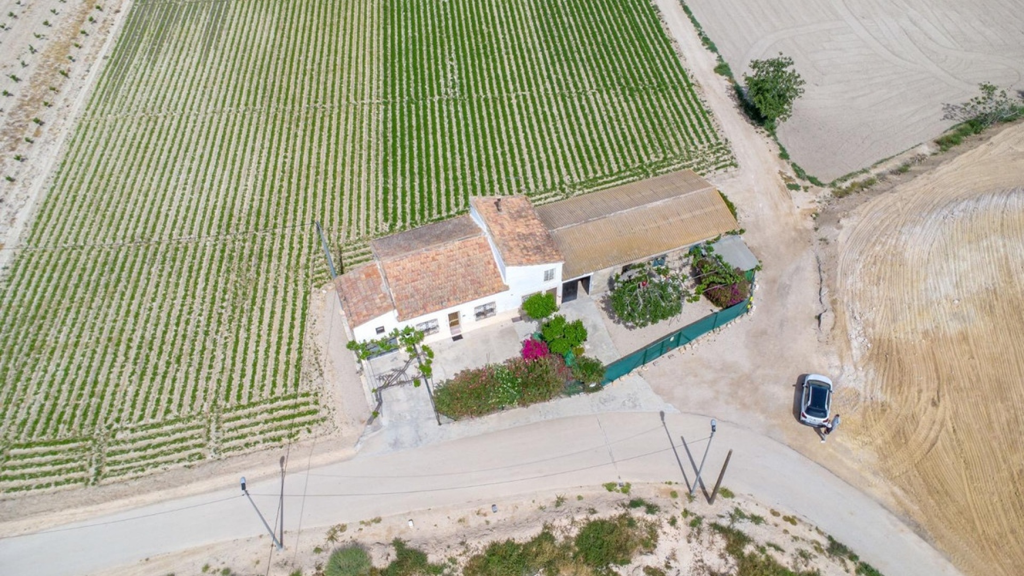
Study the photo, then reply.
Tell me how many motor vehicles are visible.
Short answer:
one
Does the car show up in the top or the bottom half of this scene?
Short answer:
bottom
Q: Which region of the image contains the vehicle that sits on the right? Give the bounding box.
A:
[797,370,836,429]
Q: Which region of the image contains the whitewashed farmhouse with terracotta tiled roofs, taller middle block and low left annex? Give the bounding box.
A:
[335,193,564,349]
